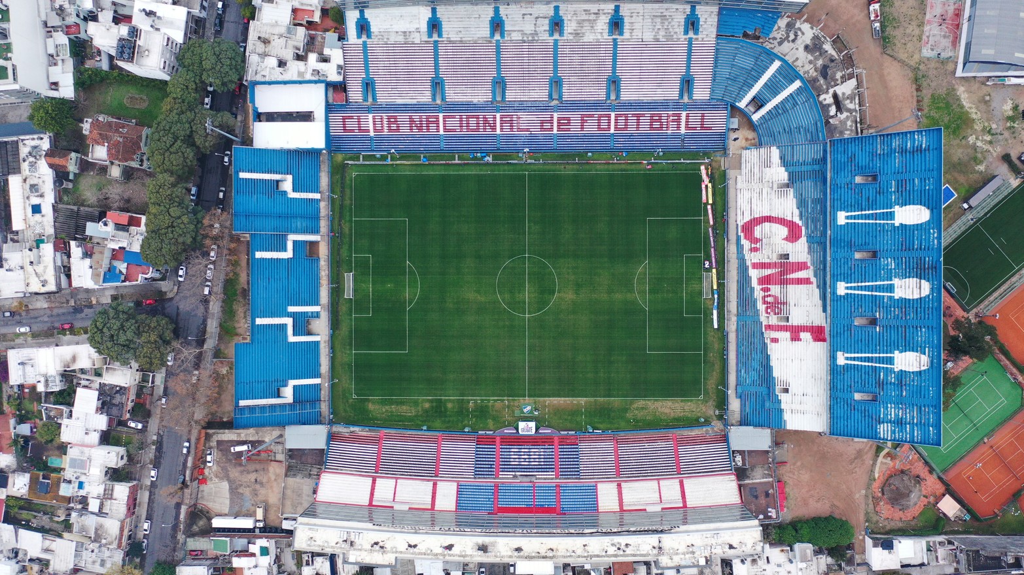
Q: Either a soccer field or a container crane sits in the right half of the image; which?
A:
soccer field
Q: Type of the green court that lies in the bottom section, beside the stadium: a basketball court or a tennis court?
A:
tennis court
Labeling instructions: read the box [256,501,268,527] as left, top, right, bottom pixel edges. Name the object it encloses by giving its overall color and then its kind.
white vehicle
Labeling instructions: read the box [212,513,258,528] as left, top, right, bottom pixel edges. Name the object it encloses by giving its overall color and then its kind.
white vehicle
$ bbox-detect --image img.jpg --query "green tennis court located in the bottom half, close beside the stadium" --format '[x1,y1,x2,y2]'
[914,354,1023,473]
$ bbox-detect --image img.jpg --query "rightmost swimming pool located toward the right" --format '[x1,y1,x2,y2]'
[944,182,959,208]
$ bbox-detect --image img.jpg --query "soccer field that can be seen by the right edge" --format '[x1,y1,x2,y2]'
[944,185,1024,311]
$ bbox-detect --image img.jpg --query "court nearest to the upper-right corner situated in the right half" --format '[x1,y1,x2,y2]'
[919,0,962,59]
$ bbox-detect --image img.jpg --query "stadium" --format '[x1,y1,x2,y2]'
[232,0,944,571]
